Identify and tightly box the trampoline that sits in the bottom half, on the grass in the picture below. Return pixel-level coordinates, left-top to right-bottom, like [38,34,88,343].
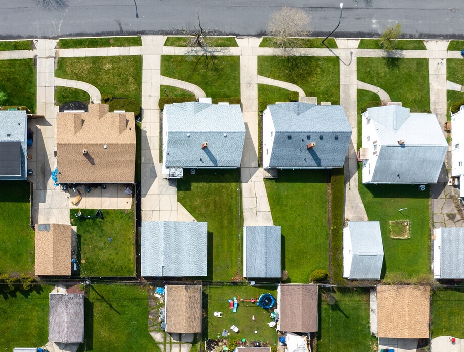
[258,293,277,310]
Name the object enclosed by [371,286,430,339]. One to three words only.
building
